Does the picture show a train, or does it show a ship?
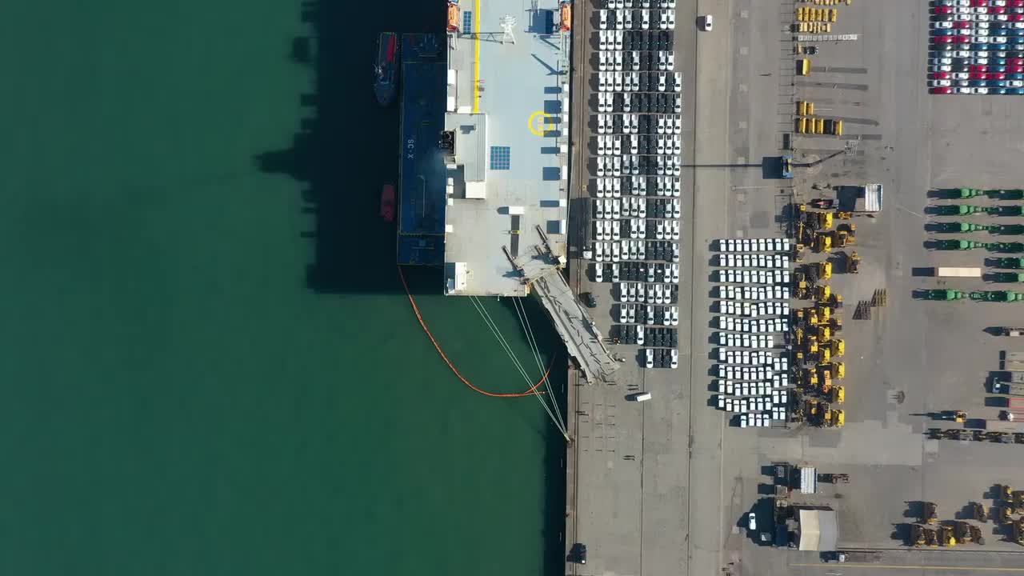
ship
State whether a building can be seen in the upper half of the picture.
No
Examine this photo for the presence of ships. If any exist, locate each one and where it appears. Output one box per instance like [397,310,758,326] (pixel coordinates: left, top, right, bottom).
[398,33,447,265]
[439,0,620,384]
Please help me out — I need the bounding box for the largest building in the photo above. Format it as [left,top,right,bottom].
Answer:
[796,507,838,551]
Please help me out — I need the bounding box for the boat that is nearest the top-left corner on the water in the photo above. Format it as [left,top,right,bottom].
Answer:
[375,33,399,107]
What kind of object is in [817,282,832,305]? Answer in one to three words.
work vehicle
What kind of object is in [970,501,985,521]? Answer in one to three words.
work vehicle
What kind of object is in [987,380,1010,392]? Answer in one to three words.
vehicle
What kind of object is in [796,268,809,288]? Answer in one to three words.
vehicle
